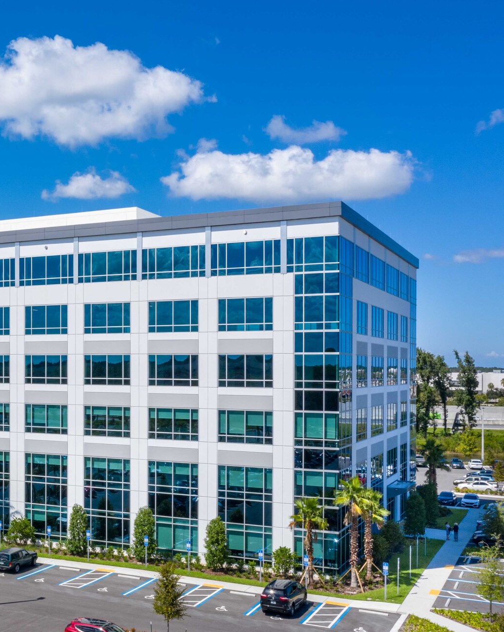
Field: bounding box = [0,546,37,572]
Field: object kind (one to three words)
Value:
car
